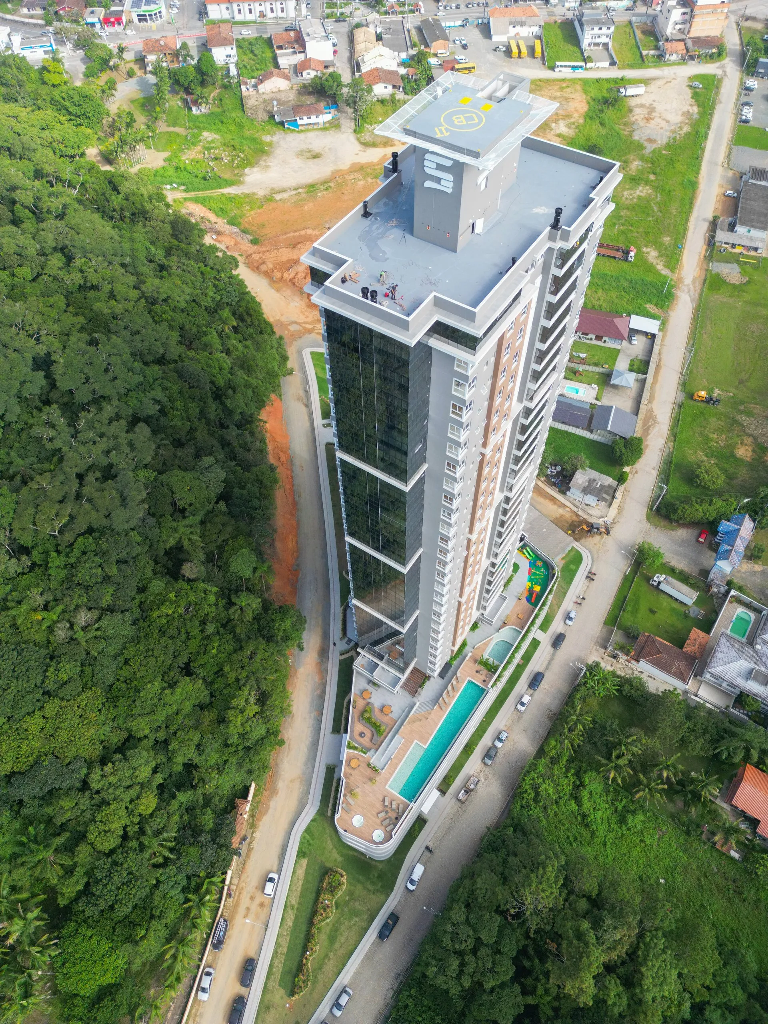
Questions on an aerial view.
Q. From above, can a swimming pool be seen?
Yes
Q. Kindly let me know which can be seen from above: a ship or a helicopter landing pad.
helicopter landing pad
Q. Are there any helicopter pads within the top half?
Yes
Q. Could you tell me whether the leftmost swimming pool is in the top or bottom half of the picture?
bottom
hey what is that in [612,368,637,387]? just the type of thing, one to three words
gazebo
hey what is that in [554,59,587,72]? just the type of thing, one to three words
vehicle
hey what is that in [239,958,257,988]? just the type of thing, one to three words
car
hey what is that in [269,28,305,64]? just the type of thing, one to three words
house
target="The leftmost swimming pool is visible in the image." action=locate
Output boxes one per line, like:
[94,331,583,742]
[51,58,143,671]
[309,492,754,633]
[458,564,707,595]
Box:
[386,680,489,803]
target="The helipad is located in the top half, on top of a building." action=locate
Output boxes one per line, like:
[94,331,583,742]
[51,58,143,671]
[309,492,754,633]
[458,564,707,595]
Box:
[402,82,534,156]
